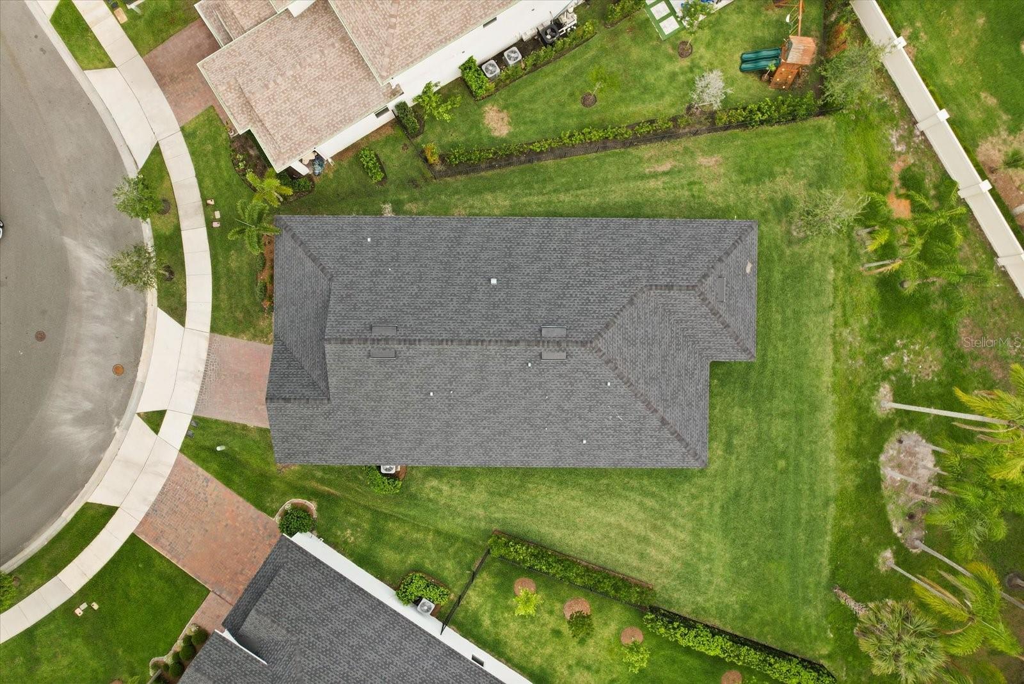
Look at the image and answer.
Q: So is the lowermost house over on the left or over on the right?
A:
left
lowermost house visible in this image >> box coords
[175,531,534,684]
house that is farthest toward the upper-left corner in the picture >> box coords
[196,0,579,176]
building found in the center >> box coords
[264,214,759,469]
